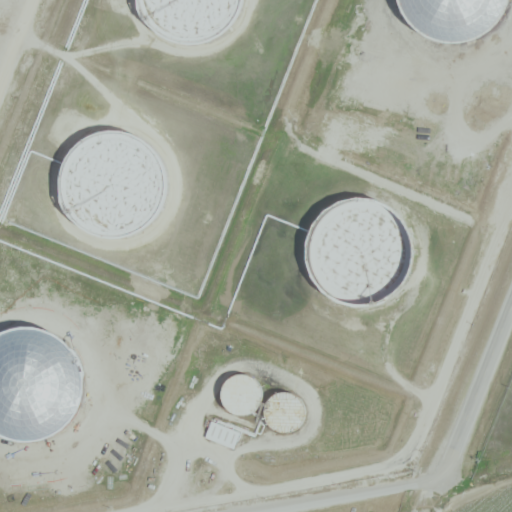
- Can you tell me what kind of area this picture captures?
industrial area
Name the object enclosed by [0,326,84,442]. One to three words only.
storage tank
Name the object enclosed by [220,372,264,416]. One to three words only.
storage tank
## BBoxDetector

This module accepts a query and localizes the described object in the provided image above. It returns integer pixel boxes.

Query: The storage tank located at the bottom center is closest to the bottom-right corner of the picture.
[263,390,308,434]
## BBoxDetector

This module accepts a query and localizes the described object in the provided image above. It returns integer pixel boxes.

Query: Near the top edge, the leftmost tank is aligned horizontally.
[136,0,244,46]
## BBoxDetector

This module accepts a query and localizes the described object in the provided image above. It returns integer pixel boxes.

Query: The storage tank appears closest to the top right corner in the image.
[396,0,508,46]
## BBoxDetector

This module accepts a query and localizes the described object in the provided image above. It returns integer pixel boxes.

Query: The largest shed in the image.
[205,422,241,450]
